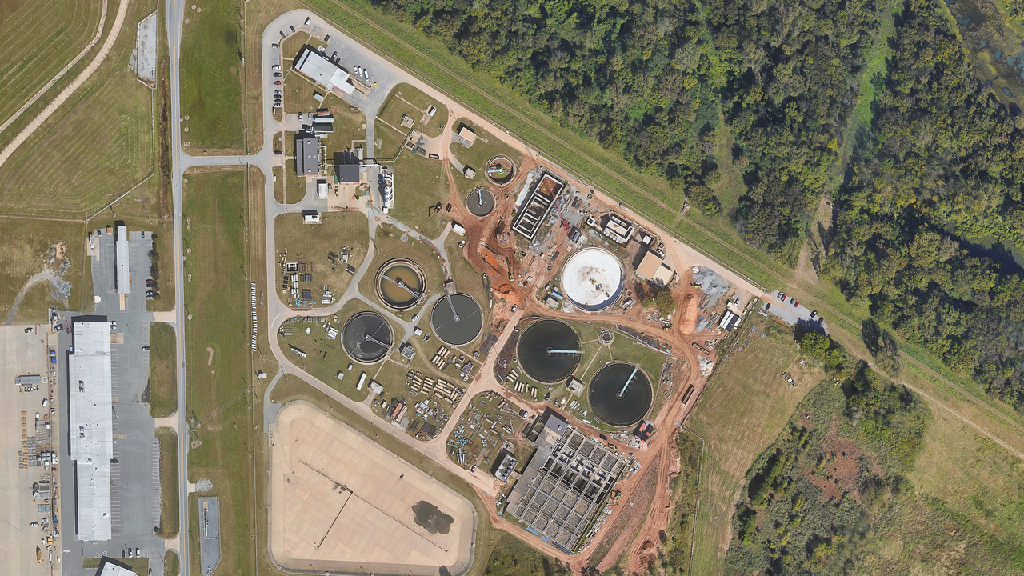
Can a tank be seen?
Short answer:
Yes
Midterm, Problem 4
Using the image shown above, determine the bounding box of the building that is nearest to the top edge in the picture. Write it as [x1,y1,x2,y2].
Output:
[295,46,355,95]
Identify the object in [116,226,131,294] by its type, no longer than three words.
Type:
building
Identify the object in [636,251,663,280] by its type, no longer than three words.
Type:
building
